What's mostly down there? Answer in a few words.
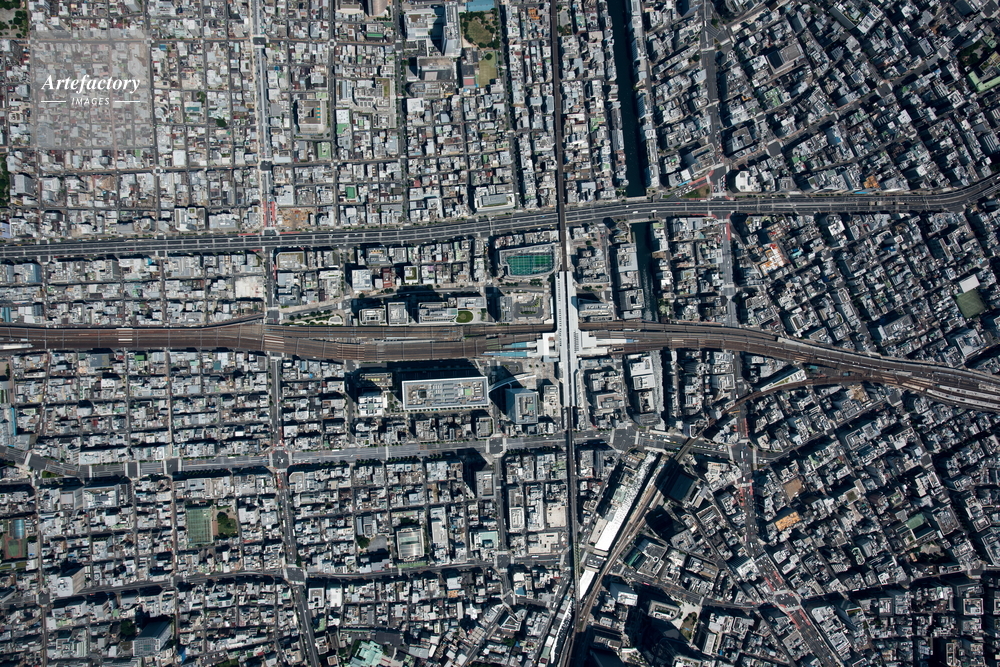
buildings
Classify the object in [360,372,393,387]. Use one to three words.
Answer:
building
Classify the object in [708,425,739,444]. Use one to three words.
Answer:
building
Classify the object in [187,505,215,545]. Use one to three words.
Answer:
sports field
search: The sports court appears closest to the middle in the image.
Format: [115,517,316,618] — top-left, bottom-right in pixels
[508,254,553,274]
